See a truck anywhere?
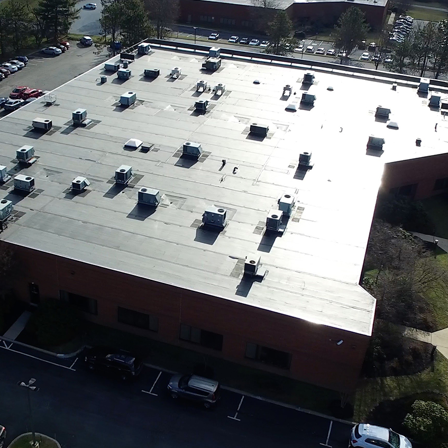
No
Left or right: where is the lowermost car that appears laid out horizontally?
right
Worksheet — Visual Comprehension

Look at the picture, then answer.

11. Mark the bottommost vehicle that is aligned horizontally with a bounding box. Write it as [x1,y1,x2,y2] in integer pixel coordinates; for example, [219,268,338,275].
[348,421,413,448]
